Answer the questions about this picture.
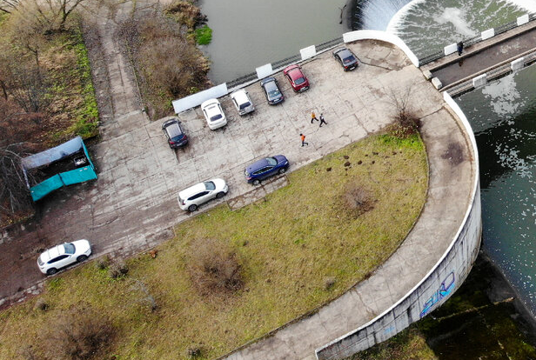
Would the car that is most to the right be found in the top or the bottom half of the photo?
top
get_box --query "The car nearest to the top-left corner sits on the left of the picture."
[159,115,189,147]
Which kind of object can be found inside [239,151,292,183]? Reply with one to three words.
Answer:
car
